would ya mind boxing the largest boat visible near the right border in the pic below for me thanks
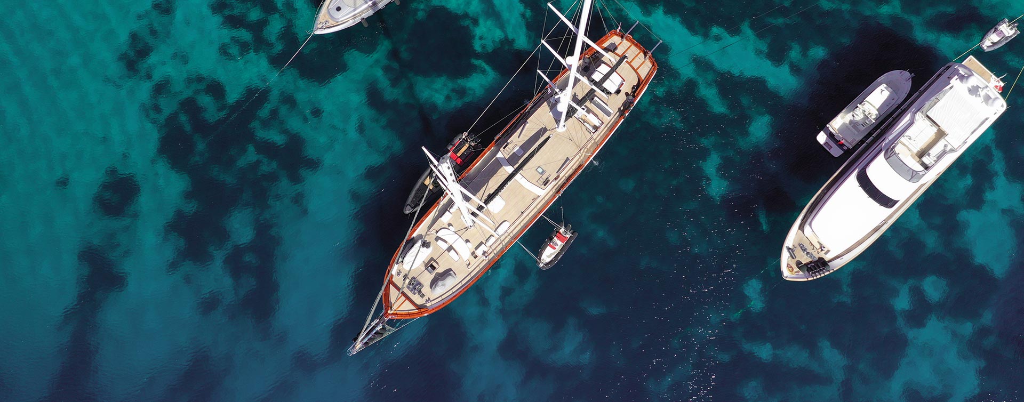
[779,56,1012,285]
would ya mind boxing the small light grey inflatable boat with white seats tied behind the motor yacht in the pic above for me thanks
[976,17,1021,52]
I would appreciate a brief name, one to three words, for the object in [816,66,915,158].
boat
